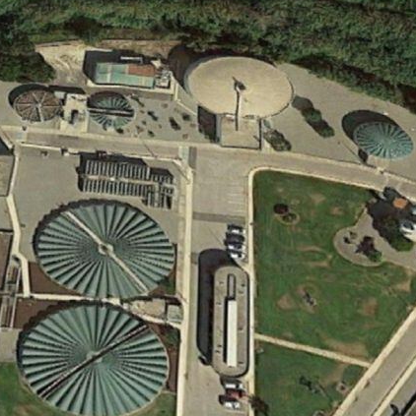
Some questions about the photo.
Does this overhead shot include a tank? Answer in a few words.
Yes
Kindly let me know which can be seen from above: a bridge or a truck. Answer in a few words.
bridge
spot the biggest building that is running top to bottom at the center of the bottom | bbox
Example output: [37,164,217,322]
[210,264,249,385]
